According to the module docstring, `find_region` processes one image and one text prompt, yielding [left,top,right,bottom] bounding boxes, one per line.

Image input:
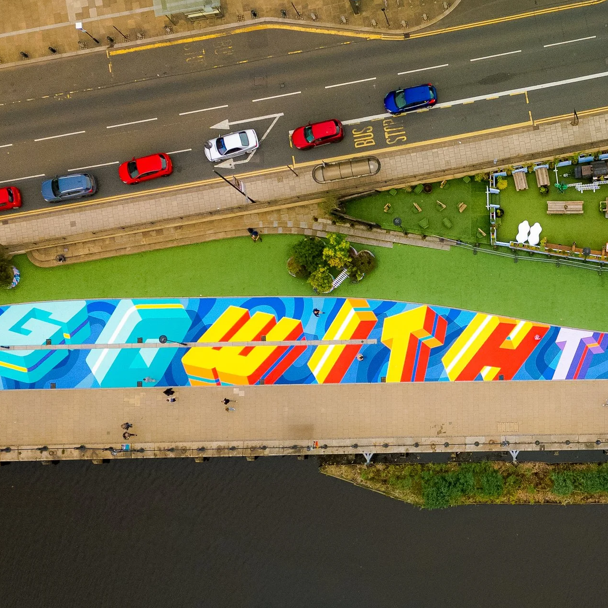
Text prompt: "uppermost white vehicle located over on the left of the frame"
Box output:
[207,130,260,160]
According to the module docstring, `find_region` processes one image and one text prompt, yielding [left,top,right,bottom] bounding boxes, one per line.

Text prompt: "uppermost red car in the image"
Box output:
[293,120,345,151]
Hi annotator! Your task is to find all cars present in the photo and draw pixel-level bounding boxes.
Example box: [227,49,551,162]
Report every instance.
[293,120,345,151]
[385,84,436,116]
[43,173,99,204]
[0,187,26,211]
[120,154,174,184]
[207,130,260,160]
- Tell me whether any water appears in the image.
Yes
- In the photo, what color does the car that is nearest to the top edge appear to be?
blue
